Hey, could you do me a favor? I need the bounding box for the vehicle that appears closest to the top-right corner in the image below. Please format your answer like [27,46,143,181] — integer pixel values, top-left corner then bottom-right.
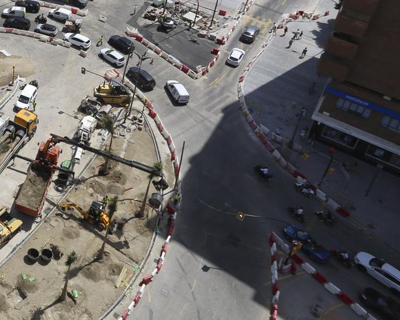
[242,24,261,41]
